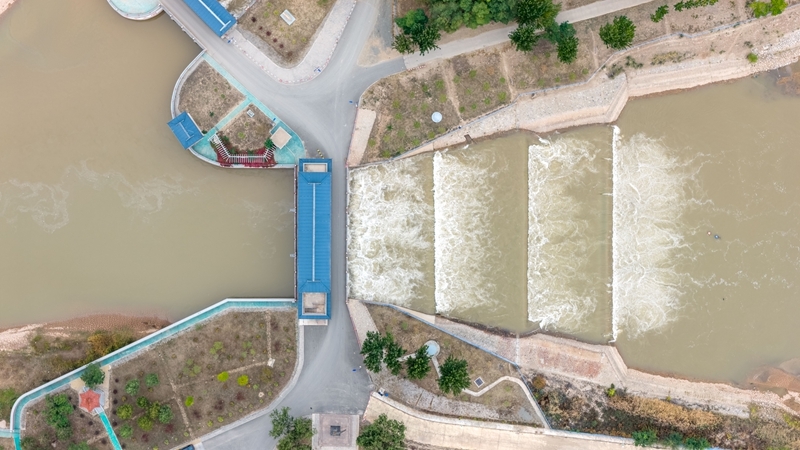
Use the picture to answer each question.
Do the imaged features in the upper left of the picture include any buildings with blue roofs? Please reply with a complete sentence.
Yes, looking in the upper left of the picture, one can make out a building with a blue roof.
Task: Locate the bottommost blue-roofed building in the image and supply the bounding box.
[296,159,332,326]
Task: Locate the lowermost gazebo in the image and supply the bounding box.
[80,385,104,413]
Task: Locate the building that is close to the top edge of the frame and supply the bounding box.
[185,0,238,38]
